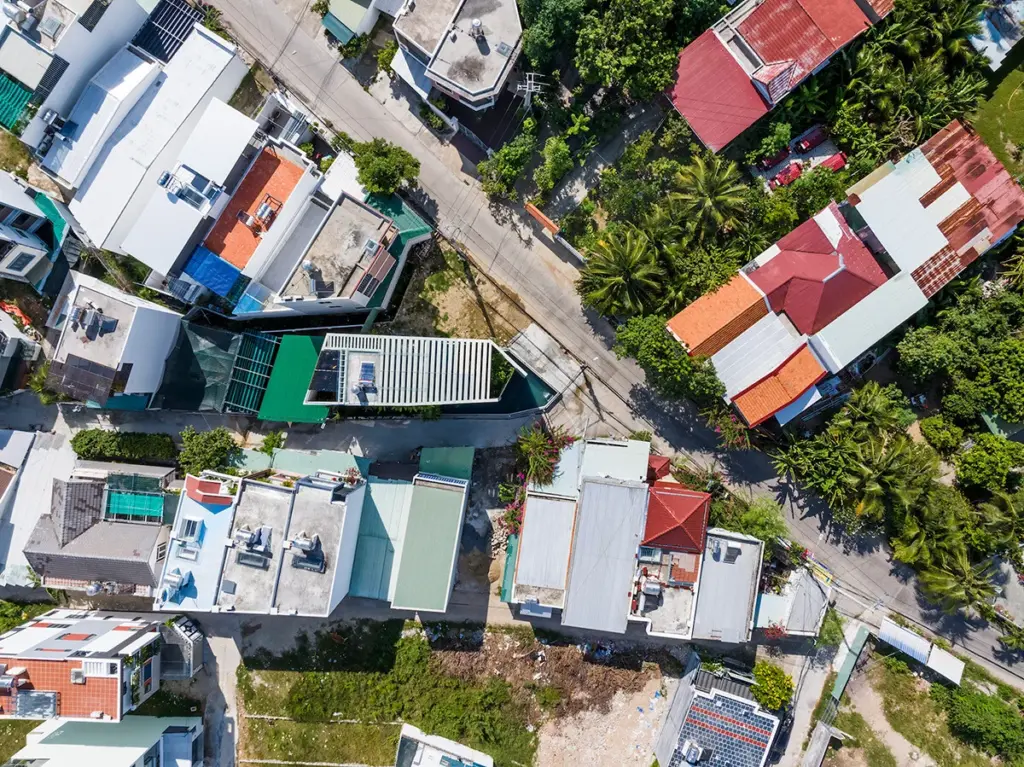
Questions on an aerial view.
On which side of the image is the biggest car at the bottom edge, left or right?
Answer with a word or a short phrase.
right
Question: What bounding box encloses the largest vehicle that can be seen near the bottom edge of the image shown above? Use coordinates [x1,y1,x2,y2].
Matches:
[768,724,794,762]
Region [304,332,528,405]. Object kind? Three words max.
house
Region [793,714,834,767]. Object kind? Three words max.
shed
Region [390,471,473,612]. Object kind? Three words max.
house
